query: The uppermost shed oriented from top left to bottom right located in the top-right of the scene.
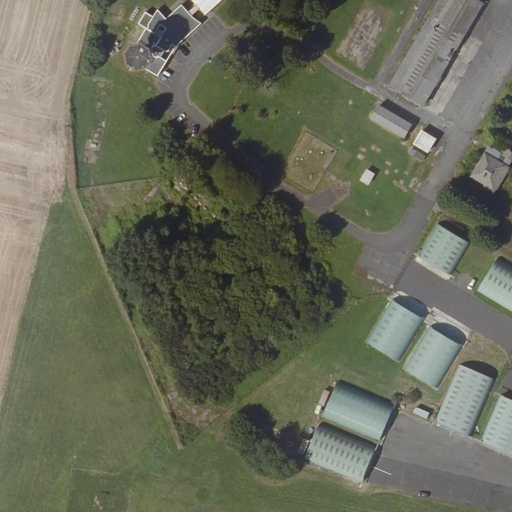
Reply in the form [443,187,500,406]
[370,105,413,139]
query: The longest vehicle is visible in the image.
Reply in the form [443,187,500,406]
[313,389,329,415]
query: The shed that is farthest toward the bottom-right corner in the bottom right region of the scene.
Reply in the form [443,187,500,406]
[482,396,512,454]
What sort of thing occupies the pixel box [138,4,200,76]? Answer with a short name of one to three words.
building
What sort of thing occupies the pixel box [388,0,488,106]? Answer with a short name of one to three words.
shed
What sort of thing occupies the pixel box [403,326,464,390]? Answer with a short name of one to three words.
shed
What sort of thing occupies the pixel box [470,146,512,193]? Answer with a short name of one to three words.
house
